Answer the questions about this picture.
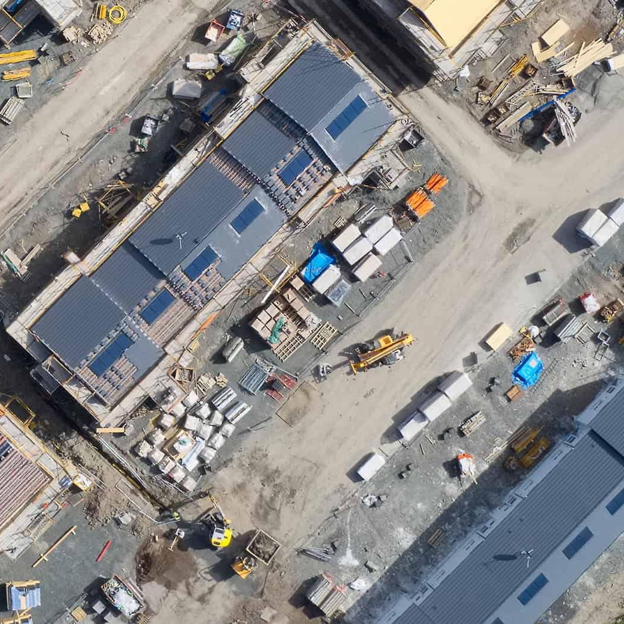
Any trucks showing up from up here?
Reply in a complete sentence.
Yes, a truck appears in the view.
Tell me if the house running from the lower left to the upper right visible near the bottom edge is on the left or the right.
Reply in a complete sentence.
You can find the house running from the lower left to the upper right visible near the bottom edge on the right side of the picture.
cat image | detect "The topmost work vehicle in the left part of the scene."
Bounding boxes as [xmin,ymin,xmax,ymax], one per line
[199,488,239,554]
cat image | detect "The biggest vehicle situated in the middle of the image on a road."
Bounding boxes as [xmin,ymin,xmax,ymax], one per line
[332,331,418,378]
